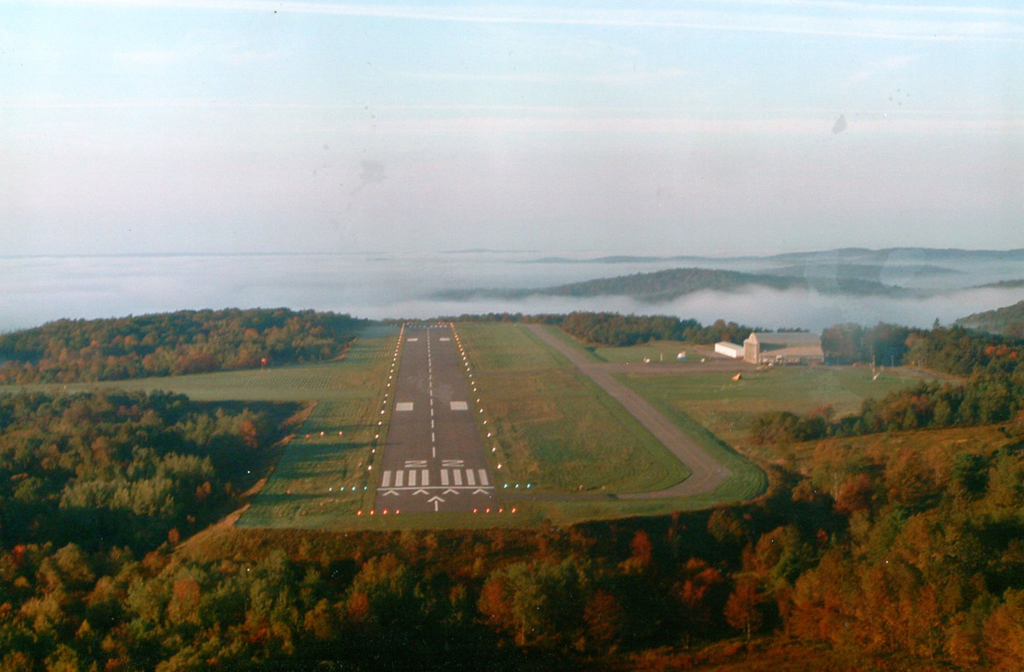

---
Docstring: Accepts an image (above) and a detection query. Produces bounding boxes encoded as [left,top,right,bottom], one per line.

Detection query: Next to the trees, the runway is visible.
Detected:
[373,323,499,512]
